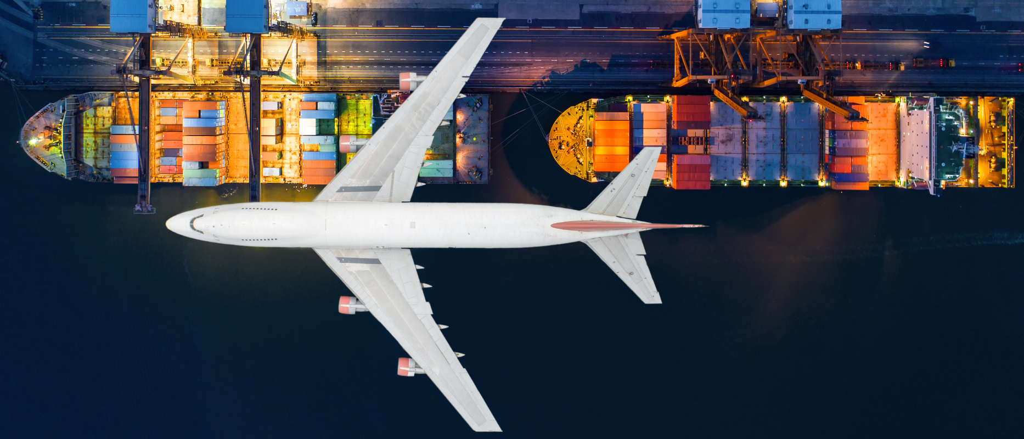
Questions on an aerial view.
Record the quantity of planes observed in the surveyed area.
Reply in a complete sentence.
In total, 1 plane can be seen.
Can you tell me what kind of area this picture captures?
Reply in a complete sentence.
This looks like a port.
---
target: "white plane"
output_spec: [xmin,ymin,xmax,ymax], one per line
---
[166,18,702,431]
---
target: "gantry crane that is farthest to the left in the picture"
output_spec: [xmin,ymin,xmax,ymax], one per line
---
[108,0,233,212]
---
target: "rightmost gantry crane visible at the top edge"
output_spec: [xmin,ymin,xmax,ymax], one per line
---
[743,0,879,115]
